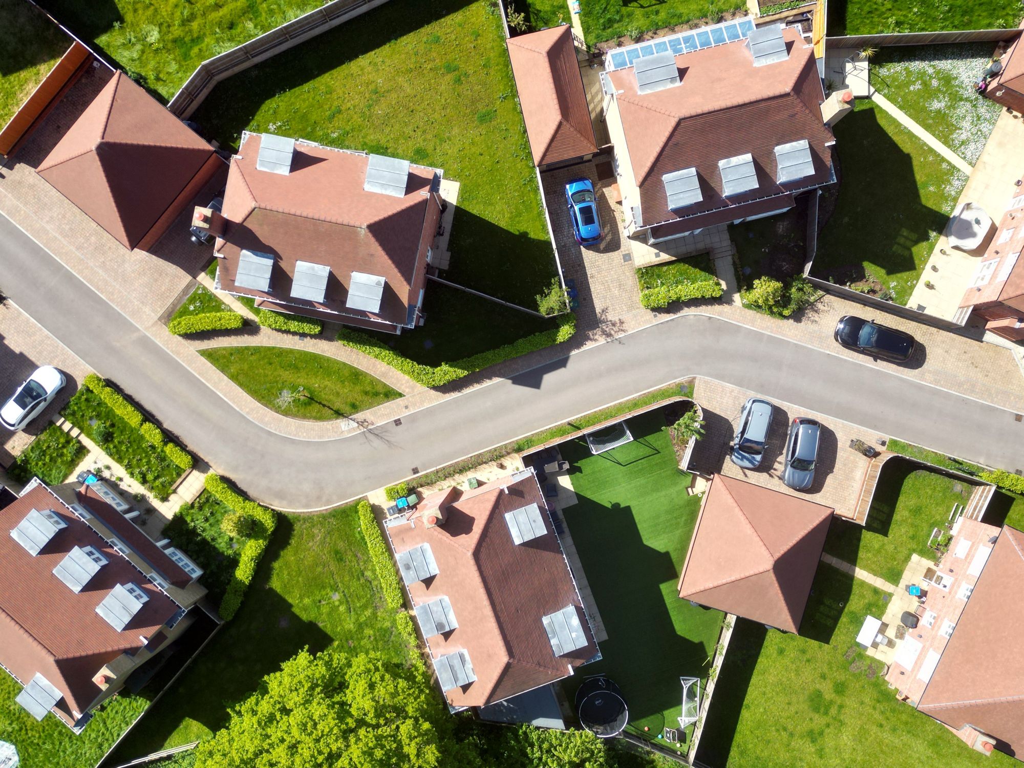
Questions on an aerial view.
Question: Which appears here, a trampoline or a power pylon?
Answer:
trampoline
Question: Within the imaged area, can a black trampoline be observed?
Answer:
Yes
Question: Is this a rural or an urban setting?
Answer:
urban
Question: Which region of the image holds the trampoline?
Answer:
bottom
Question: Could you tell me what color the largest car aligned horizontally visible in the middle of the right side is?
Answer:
black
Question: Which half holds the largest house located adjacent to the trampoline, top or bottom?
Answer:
bottom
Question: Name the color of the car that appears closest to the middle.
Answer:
blue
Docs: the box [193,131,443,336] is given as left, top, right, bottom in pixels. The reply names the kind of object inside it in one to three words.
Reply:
house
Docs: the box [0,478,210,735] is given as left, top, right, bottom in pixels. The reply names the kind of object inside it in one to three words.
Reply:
house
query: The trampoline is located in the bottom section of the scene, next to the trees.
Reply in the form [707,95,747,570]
[575,663,628,734]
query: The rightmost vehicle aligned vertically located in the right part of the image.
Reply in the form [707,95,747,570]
[780,416,820,491]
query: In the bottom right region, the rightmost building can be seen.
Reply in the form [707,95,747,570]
[886,519,1024,763]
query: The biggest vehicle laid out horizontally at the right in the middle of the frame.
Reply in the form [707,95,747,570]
[831,318,914,360]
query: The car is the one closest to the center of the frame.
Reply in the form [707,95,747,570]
[564,178,600,249]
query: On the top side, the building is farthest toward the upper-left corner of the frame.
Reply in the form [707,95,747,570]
[35,70,222,252]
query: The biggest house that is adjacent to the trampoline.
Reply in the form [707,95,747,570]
[383,468,601,713]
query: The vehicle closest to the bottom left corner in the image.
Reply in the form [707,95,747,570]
[0,363,69,433]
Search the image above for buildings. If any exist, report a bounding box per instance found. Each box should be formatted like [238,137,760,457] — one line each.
[961,176,1024,348]
[676,473,835,634]
[0,478,210,735]
[193,131,443,336]
[597,14,855,244]
[981,1,1024,114]
[383,468,601,713]
[886,519,1024,763]
[35,70,222,252]
[506,23,600,171]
